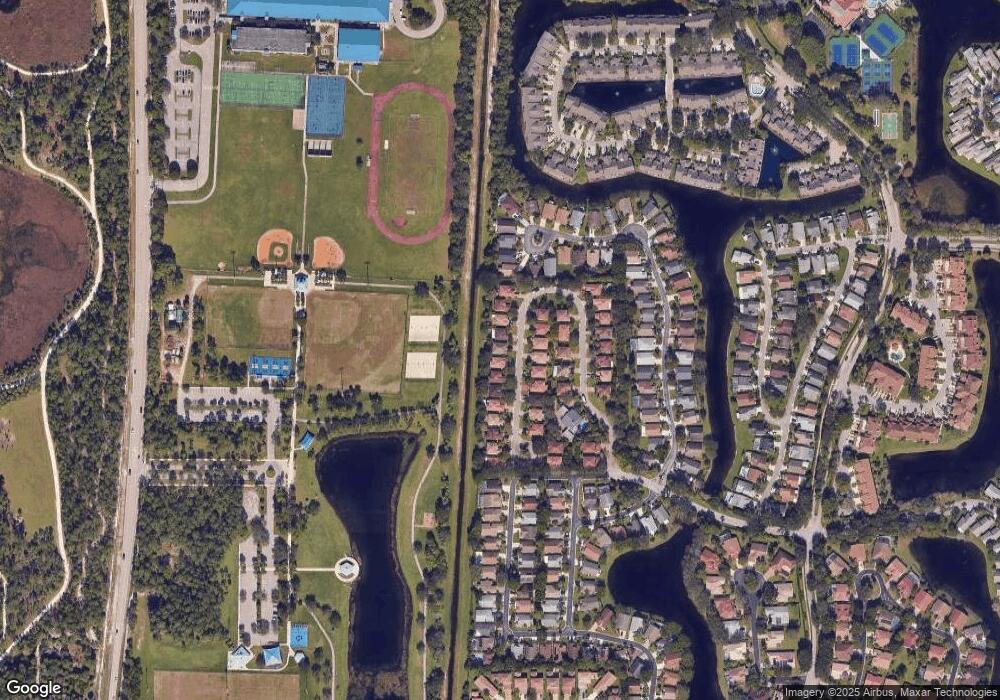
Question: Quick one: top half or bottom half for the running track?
top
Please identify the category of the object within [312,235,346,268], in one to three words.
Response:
baseball field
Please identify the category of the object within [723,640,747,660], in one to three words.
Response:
house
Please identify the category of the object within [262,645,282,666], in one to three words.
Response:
building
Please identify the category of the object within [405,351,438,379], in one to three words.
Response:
sports court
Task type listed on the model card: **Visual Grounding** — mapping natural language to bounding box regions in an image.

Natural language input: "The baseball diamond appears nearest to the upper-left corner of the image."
[256,227,295,266]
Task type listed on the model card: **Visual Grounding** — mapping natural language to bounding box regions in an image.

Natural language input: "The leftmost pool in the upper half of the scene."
[747,72,768,98]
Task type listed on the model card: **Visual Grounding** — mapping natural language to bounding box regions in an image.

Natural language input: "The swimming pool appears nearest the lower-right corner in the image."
[888,350,906,365]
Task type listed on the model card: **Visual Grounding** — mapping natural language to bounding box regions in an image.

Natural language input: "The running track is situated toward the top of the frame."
[367,83,453,244]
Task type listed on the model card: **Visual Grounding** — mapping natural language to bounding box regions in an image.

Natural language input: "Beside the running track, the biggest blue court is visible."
[304,75,346,137]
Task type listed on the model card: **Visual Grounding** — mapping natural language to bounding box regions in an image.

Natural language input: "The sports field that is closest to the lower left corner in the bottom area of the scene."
[154,671,299,700]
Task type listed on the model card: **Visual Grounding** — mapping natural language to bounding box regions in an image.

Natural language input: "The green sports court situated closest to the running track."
[219,70,306,108]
